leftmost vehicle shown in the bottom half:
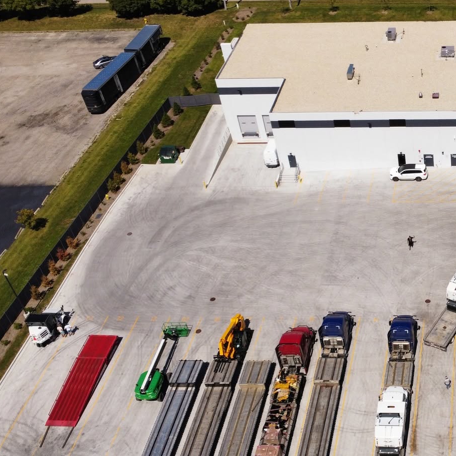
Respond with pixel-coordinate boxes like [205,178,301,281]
[24,293,74,345]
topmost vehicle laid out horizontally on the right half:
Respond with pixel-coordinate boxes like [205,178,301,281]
[389,164,428,182]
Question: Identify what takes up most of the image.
paved ground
